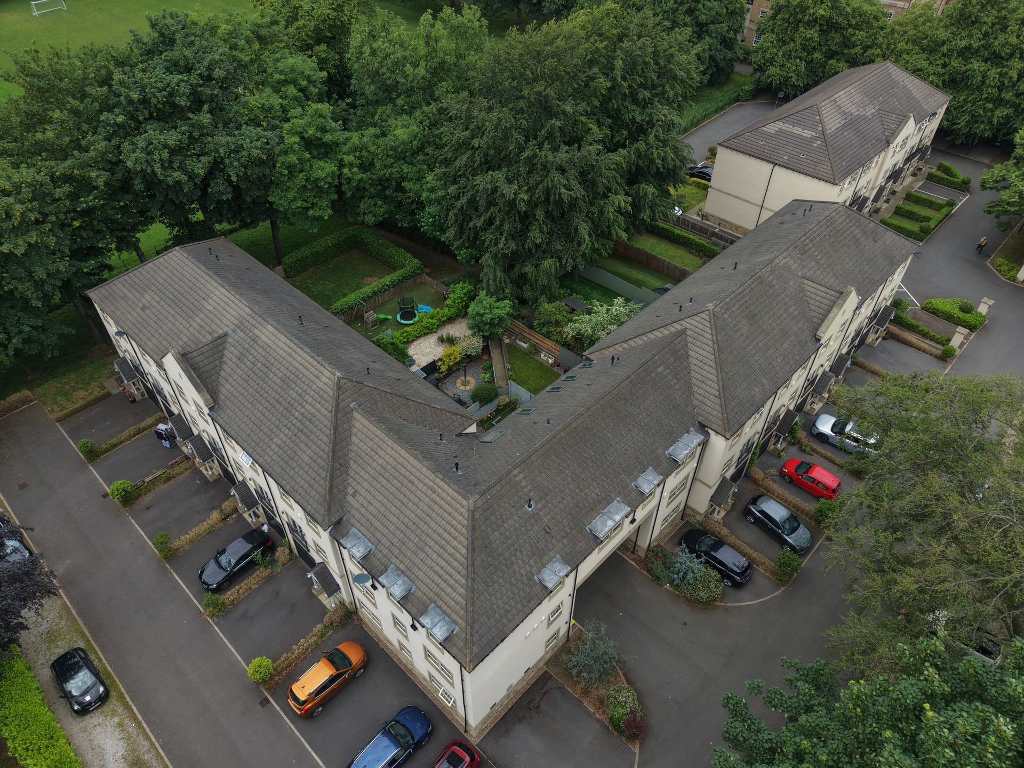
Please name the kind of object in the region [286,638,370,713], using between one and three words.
car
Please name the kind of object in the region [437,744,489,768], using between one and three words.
car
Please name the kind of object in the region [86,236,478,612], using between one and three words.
building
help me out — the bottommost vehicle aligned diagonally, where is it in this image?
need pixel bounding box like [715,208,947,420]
[343,698,434,768]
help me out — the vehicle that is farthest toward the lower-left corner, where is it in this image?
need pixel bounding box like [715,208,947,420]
[47,647,109,713]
